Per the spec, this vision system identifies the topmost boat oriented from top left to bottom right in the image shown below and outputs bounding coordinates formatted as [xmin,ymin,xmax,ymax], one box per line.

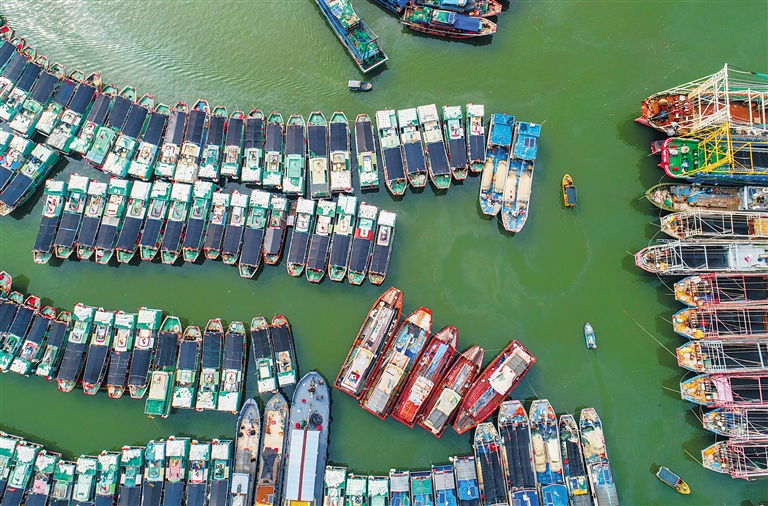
[314,0,388,76]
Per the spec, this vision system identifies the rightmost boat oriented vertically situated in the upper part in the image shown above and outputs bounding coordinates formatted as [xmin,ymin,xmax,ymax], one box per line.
[562,174,578,208]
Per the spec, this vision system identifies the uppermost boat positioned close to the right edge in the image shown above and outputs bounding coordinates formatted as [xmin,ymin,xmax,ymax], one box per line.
[637,60,768,133]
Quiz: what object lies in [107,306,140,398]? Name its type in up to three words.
boat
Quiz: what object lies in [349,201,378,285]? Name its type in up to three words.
boat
